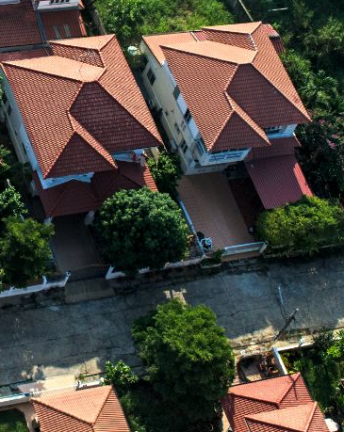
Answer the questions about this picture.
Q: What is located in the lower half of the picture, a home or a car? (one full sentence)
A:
There is a home in the lower half of the picture.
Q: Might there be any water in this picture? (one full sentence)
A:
No, there's no water in this view.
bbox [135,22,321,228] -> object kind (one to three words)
house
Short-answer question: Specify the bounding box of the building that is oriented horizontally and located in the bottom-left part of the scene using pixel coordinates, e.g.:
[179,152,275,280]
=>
[25,383,129,432]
